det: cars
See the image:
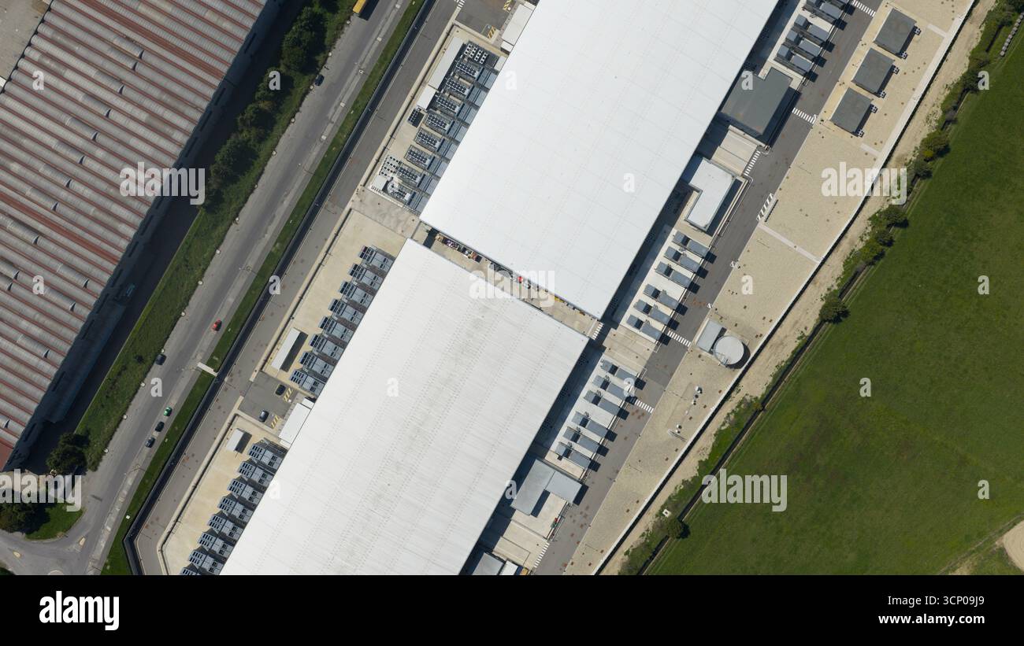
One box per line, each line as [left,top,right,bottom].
[259,410,269,422]
[213,320,222,331]
[276,384,286,395]
[163,406,172,417]
[315,75,324,86]
[155,421,164,432]
[146,437,155,448]
[156,353,165,365]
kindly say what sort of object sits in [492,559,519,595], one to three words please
shed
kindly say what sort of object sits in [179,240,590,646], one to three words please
warehouse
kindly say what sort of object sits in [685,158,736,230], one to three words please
building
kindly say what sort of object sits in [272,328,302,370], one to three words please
building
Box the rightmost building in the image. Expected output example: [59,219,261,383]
[718,68,792,136]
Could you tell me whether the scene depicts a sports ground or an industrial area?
industrial area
